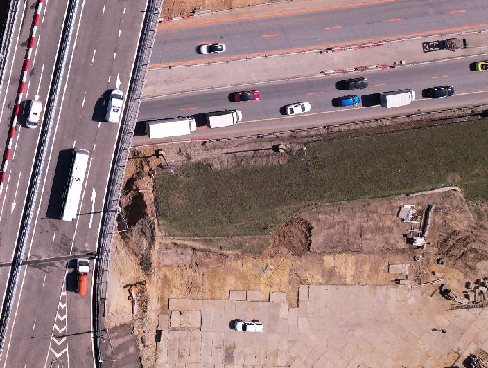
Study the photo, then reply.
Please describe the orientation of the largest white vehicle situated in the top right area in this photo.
from side to side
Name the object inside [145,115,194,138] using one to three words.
truck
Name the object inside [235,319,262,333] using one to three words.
car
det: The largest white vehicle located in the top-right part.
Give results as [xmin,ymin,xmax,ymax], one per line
[375,89,410,108]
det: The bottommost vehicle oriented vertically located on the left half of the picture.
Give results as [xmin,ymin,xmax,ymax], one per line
[75,254,91,297]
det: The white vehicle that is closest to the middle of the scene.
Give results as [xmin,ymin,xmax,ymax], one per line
[204,108,239,128]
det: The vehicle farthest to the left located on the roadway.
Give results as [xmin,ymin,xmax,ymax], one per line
[26,97,42,129]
